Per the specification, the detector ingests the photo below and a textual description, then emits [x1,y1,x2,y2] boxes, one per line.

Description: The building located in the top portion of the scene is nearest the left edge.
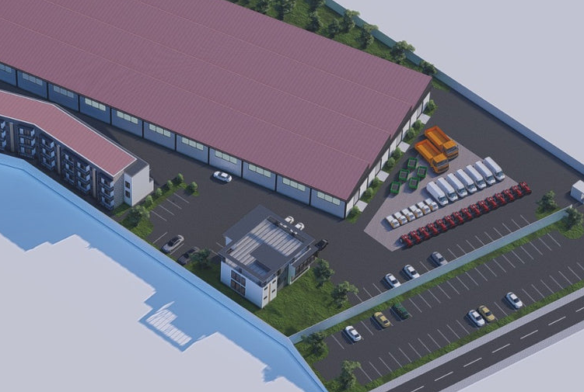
[0,88,153,211]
